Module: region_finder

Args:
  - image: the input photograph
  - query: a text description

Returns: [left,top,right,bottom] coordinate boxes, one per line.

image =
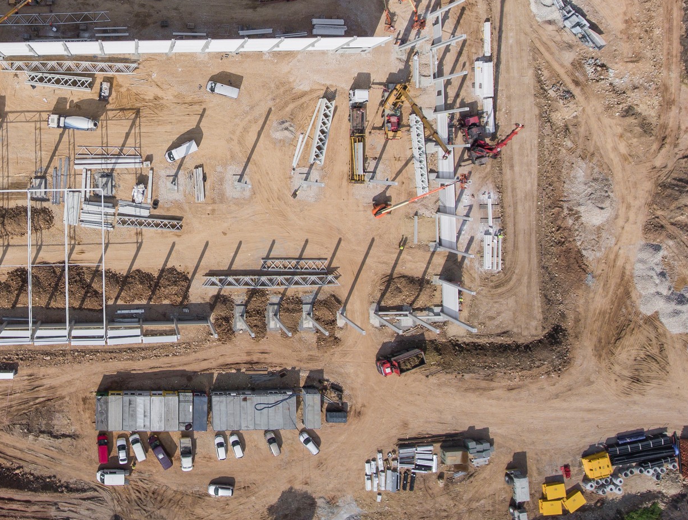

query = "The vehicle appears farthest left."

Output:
[47,112,98,131]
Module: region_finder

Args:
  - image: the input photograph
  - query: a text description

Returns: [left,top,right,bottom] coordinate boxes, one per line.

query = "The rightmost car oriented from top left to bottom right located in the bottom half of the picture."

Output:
[299,431,322,459]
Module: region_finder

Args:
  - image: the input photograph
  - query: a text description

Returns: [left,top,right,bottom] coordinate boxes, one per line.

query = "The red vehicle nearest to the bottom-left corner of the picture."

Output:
[96,435,109,468]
